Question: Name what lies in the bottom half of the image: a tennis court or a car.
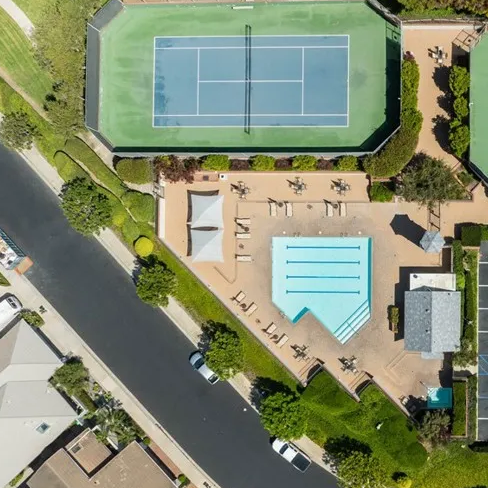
car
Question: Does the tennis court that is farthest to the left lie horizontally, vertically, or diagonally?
horizontally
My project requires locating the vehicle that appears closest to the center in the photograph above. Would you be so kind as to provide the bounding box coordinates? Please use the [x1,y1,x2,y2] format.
[188,351,219,386]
